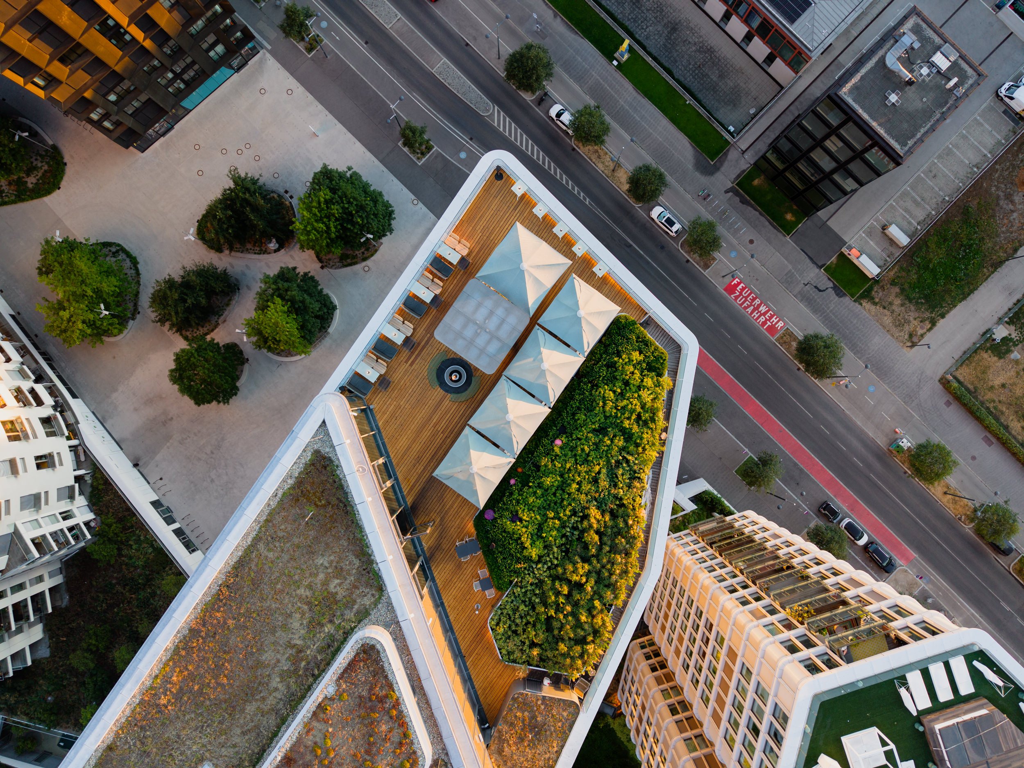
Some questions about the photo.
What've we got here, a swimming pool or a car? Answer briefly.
car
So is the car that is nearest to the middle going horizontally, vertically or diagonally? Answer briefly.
diagonally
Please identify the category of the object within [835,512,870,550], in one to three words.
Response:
car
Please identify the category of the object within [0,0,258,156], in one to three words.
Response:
building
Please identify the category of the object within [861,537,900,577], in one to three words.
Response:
car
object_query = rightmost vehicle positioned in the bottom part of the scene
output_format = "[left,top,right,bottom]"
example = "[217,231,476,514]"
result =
[979,531,1018,565]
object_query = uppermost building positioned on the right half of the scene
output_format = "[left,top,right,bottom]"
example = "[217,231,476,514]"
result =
[691,0,873,88]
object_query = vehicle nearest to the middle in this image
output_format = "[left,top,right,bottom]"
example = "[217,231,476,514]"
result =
[646,202,686,241]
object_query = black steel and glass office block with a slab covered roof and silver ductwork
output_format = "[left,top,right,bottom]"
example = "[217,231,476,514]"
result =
[752,5,988,218]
